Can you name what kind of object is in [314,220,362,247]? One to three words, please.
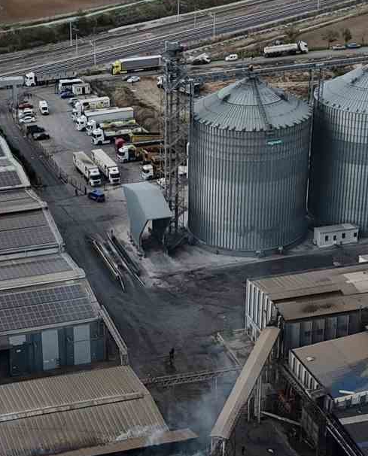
building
